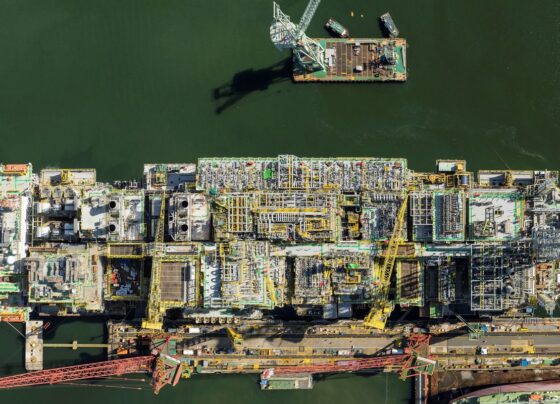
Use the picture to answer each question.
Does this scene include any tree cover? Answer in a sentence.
No, there's no tree cover in this view.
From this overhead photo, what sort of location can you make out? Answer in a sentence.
It's a port.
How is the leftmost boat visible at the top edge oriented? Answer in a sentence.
I'd say the leftmost boat visible at the top edge is aligned at an angle in the picture.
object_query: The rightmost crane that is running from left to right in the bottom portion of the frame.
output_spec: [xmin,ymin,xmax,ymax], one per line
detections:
[261,332,441,380]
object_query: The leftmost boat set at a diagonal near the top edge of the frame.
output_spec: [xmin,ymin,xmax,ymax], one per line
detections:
[325,19,349,40]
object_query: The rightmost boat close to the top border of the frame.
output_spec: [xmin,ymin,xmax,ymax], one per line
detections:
[380,13,399,40]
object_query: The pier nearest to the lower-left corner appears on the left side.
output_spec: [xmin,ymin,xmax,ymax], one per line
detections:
[23,317,49,370]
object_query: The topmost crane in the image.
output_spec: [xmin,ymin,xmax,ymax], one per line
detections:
[273,0,407,84]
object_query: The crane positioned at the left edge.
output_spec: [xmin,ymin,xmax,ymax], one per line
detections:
[0,336,188,396]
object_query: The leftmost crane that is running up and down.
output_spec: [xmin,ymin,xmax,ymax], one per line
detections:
[141,190,170,329]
